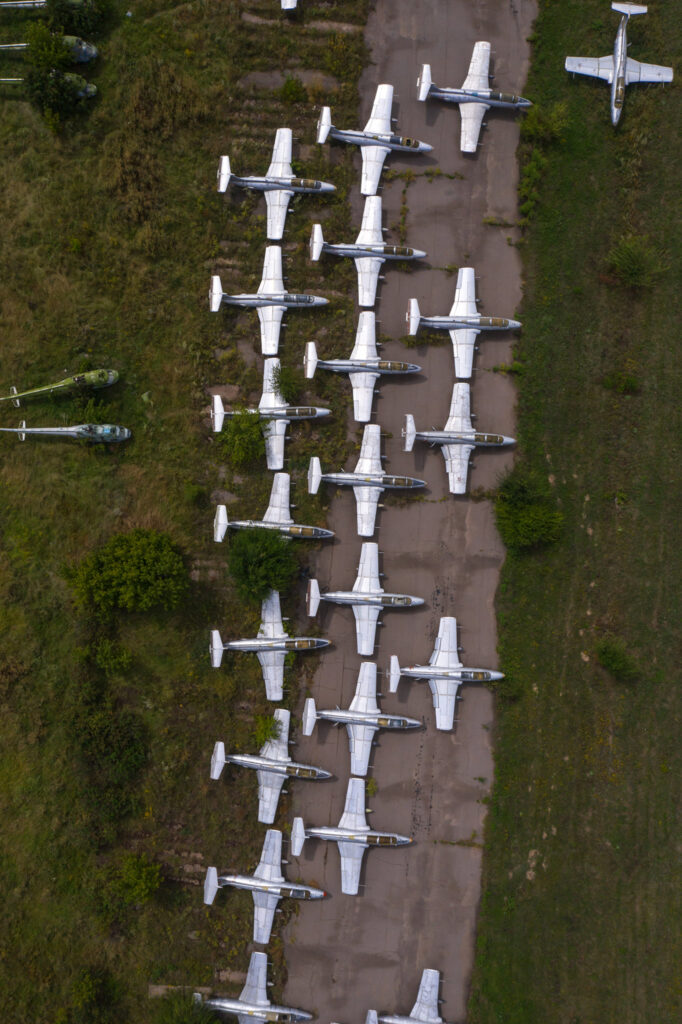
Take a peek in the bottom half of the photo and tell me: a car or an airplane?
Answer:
airplane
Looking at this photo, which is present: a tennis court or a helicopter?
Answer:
helicopter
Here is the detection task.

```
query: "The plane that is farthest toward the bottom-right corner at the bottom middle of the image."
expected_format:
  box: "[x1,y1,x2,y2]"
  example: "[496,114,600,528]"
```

[364,969,456,1024]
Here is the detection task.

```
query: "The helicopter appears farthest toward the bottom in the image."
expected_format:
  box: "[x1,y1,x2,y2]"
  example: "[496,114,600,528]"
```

[0,420,132,446]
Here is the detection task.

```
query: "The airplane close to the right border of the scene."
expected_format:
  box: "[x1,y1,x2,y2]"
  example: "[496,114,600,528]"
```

[564,1,675,127]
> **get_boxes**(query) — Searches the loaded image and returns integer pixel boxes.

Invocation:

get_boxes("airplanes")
[387,617,504,730]
[204,829,326,944]
[364,969,456,1024]
[306,543,425,655]
[309,196,426,306]
[189,952,311,1024]
[210,588,331,701]
[308,424,426,536]
[211,709,332,823]
[292,779,412,893]
[218,130,336,239]
[210,245,329,355]
[303,662,422,776]
[418,43,532,151]
[401,383,517,494]
[317,85,433,194]
[215,473,334,581]
[281,0,298,10]
[304,311,422,422]
[406,268,522,378]
[564,1,675,127]
[212,359,331,469]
